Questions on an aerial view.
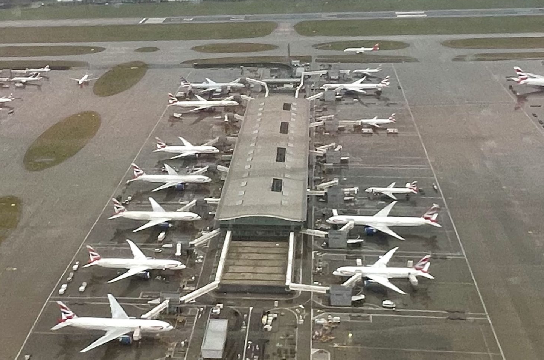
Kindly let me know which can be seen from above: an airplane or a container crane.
airplane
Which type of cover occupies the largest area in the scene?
paved ground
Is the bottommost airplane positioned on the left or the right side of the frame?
left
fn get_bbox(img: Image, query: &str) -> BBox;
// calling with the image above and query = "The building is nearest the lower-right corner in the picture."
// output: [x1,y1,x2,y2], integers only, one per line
[330,277,352,305]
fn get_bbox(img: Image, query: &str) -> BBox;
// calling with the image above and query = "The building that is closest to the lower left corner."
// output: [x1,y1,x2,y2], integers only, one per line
[159,288,181,313]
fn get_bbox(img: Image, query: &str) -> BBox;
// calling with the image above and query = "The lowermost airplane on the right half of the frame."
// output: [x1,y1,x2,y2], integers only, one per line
[333,247,430,292]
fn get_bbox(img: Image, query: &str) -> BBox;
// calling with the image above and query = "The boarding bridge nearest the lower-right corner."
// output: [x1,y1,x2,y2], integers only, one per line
[351,271,367,290]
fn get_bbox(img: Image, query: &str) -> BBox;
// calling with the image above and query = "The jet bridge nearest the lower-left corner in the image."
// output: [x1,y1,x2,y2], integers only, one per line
[137,300,170,320]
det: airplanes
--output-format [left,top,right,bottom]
[26,65,51,73]
[182,74,244,92]
[129,161,212,190]
[333,247,430,292]
[320,74,390,94]
[52,295,173,356]
[0,93,14,102]
[327,199,437,241]
[108,194,201,231]
[12,73,43,83]
[365,182,416,199]
[74,73,96,83]
[153,135,220,158]
[361,115,396,126]
[512,65,544,87]
[353,64,382,74]
[344,43,380,53]
[169,92,238,112]
[85,239,186,284]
